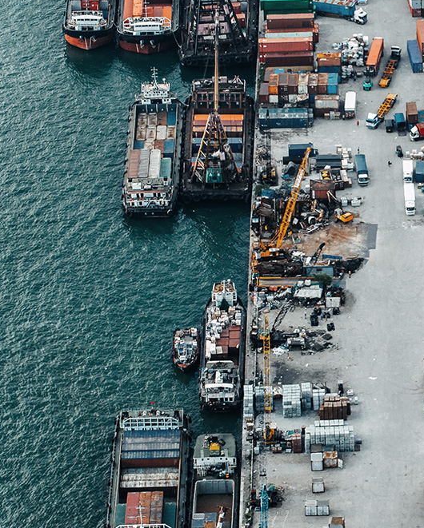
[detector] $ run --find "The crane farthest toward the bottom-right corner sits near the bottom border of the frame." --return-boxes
[255,483,273,528]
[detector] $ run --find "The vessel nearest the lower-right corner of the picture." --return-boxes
[190,433,241,528]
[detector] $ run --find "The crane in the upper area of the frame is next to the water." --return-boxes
[256,144,312,258]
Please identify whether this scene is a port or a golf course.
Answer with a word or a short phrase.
port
